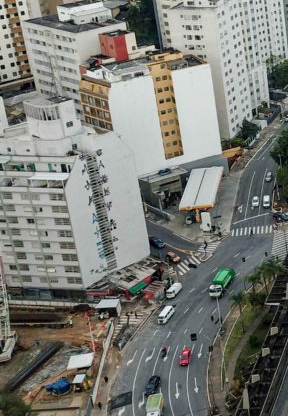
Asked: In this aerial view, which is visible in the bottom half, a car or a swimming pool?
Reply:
car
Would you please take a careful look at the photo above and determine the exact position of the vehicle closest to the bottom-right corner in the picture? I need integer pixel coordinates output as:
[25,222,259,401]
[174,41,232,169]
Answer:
[178,345,192,367]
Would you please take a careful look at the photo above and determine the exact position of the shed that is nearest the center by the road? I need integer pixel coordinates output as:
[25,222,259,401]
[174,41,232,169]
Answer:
[139,167,191,218]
